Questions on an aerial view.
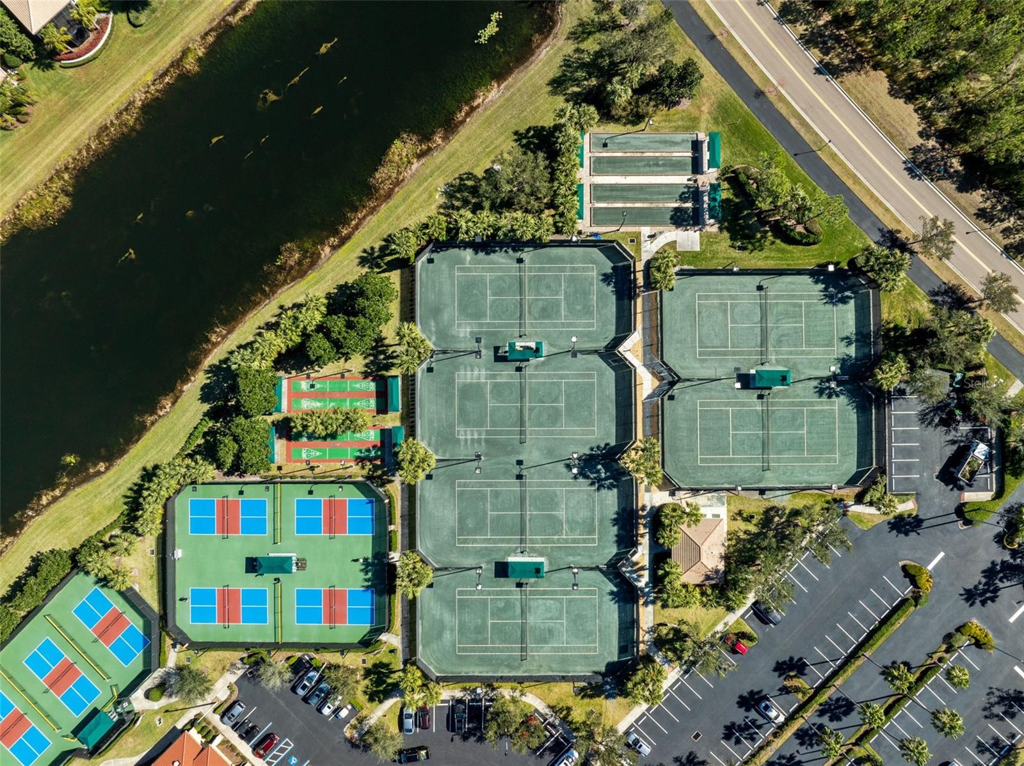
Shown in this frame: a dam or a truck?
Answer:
truck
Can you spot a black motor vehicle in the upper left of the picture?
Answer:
No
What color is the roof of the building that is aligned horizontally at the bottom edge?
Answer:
orange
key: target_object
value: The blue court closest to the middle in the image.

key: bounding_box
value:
[295,496,374,539]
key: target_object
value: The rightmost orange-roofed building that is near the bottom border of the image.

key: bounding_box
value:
[155,730,238,766]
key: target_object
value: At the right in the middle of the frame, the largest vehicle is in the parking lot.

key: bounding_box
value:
[952,440,988,484]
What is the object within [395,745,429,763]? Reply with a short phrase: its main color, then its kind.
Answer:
black vehicle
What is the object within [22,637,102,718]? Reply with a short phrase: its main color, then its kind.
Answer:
blue sports court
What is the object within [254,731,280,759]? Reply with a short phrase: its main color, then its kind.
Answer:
red car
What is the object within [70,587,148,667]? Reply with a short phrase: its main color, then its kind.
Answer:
blue sports court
